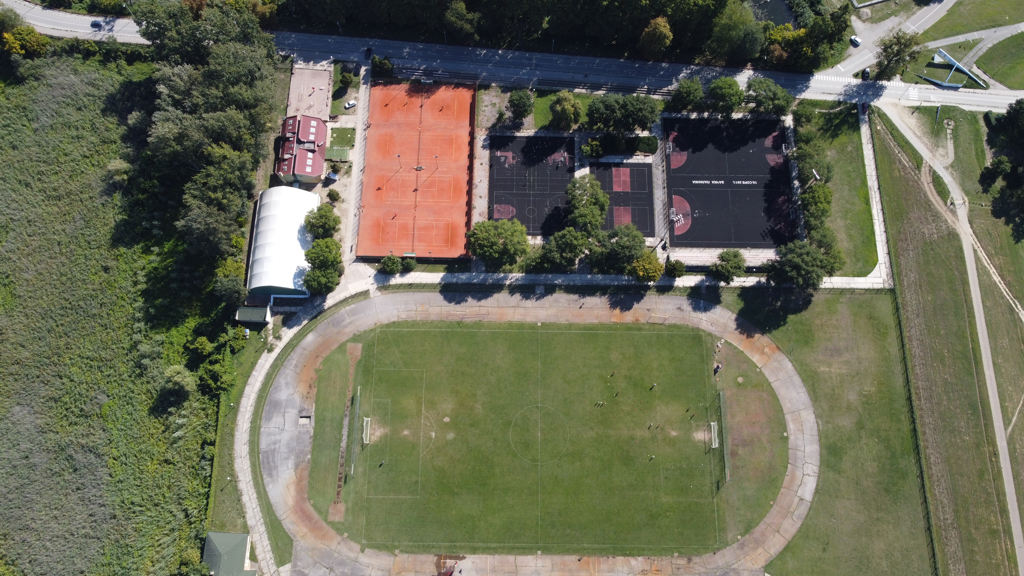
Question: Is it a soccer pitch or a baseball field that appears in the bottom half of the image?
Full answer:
What appears in the bottom half of the image is a soccer pitch.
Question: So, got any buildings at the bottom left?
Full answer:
Yes, I can see a building at the bottom left.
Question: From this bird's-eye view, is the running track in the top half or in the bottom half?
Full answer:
The running track sits in the bottom half of the picture.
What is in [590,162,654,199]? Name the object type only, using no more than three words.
sports court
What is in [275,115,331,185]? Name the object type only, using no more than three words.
building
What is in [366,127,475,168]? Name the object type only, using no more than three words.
tennis court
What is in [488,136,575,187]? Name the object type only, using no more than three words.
basketball court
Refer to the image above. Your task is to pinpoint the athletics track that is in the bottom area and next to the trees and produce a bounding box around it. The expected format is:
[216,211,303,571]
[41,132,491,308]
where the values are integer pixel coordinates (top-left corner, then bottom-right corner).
[259,292,820,576]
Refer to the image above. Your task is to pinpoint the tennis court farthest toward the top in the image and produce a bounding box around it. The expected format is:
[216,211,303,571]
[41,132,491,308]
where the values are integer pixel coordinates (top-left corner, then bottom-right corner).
[368,85,477,128]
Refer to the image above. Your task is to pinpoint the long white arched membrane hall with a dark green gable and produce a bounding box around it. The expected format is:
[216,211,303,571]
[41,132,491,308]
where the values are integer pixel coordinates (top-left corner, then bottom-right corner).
[246,182,321,307]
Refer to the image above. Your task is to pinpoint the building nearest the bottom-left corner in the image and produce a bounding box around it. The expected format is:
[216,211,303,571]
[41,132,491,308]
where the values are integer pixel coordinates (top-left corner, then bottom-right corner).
[201,532,260,576]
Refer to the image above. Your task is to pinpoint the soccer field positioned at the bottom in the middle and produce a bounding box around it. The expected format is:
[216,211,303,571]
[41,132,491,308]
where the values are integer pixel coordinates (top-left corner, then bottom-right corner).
[309,320,788,556]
